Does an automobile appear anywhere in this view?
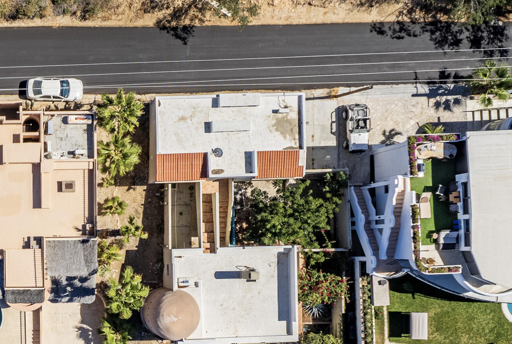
Yes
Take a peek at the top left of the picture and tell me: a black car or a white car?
white car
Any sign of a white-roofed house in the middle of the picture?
Yes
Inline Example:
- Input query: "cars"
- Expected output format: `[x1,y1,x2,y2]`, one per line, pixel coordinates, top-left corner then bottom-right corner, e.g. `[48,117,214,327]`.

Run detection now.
[342,103,372,154]
[28,76,82,102]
